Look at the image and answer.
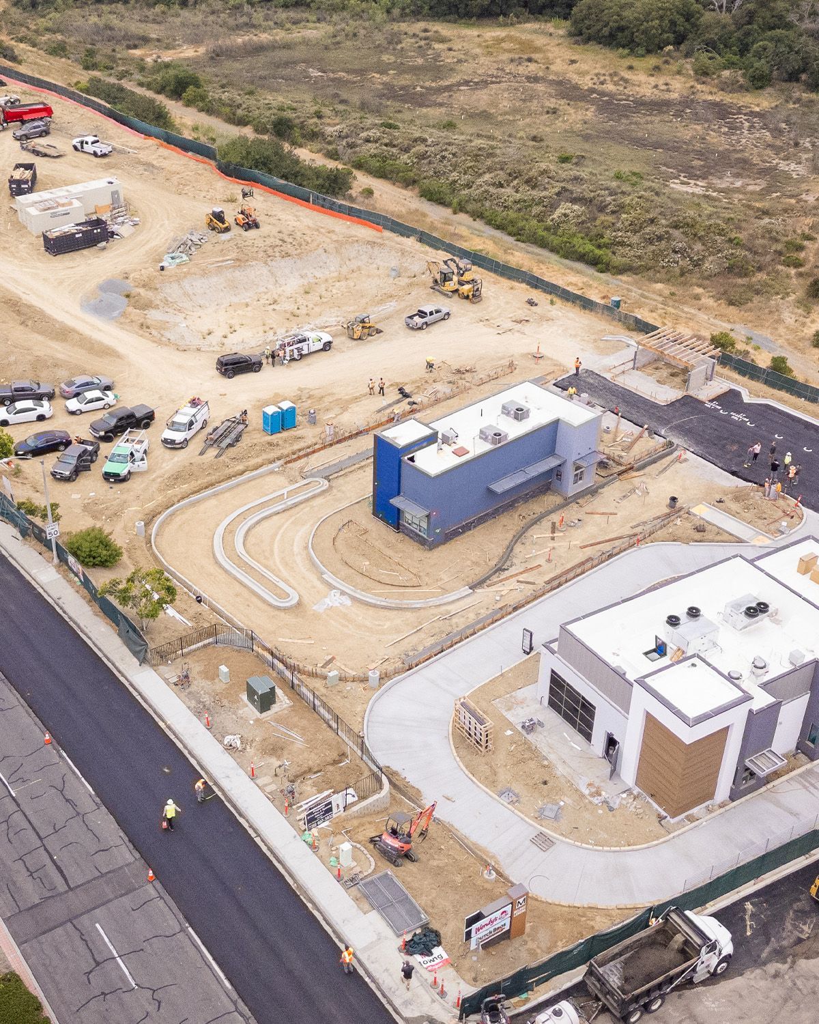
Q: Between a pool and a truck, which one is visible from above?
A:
truck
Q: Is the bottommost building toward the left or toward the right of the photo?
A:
right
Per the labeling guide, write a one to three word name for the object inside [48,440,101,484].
truck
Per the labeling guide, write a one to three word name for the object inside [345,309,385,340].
work vehicle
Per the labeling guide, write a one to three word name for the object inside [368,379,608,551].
building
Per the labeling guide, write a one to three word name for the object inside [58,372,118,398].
car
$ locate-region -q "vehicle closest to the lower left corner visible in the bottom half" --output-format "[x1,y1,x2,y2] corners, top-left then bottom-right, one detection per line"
[367,795,436,867]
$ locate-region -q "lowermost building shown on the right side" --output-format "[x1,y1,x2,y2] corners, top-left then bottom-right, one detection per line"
[535,533,819,821]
